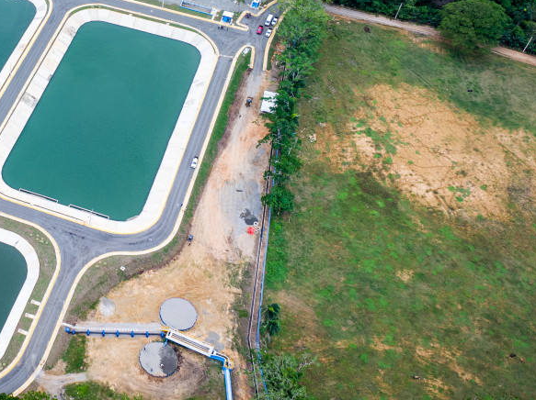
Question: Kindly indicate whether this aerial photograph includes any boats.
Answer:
No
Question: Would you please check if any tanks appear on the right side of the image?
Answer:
No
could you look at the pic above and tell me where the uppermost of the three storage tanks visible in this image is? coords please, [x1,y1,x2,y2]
[159,294,199,330]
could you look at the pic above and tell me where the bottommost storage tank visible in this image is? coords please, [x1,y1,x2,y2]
[139,342,180,379]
